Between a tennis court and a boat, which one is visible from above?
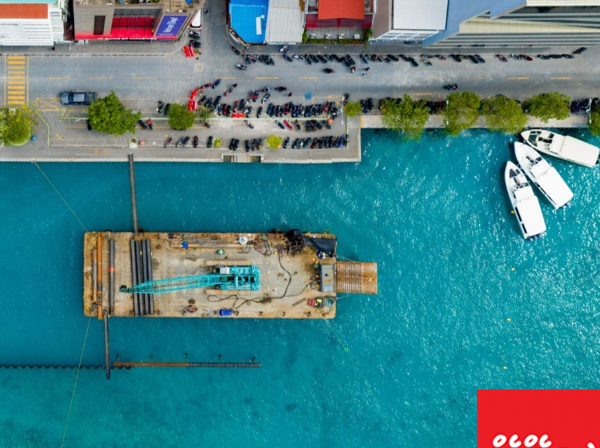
boat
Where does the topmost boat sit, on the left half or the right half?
right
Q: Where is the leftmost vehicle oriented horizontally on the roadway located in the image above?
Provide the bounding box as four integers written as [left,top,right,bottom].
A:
[60,89,94,105]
